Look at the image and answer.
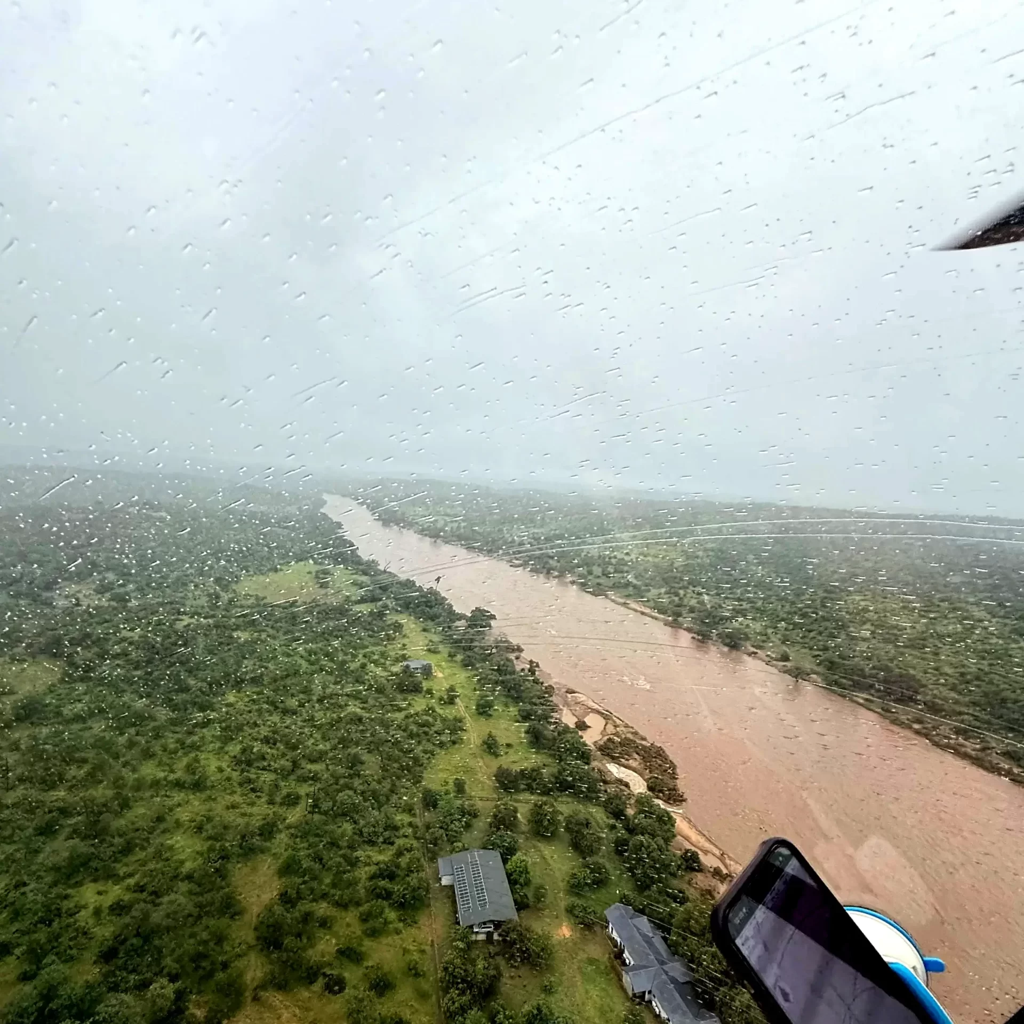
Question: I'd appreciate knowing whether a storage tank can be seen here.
No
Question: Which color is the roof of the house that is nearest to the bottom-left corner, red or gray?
gray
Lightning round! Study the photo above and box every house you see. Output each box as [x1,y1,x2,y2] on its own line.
[432,845,518,935]
[404,662,432,673]
[597,902,729,1024]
